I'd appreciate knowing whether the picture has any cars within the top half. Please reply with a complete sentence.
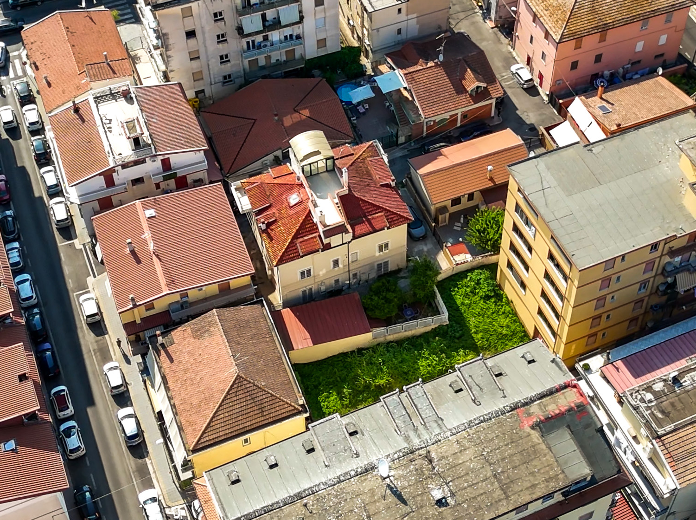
Yes, I can see a car within the top half.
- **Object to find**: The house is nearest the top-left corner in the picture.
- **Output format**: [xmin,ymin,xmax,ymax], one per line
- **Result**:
[23,0,134,114]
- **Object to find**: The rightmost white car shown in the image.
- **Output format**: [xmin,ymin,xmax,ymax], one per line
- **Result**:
[508,63,538,89]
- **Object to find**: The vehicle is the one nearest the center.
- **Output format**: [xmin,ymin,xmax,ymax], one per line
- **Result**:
[407,207,427,240]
